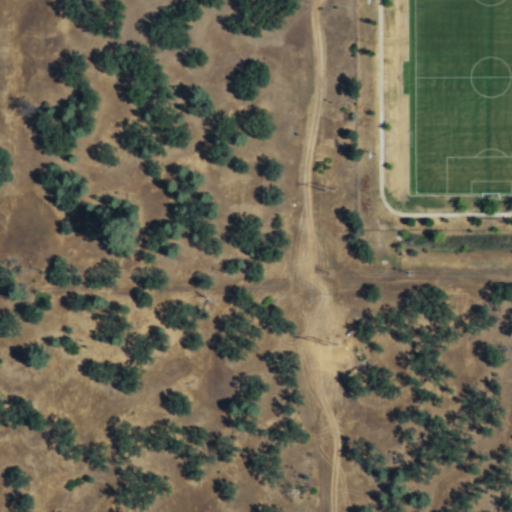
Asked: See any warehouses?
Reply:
No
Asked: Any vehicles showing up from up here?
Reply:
No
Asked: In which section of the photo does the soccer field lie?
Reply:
top right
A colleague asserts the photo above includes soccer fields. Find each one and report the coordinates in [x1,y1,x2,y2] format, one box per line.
[402,0,512,196]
